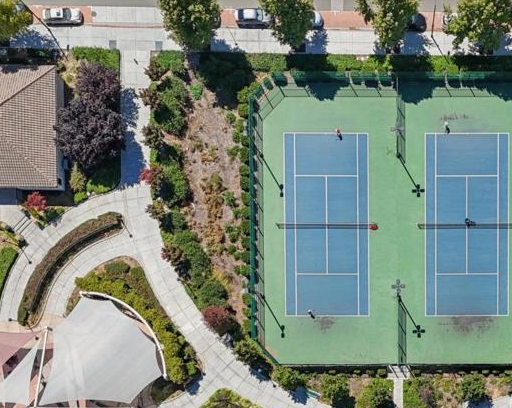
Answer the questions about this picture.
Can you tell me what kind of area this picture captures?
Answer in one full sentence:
The picture captures a sports ground.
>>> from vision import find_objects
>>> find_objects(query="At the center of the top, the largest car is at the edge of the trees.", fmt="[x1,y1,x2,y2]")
[235,9,270,29]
